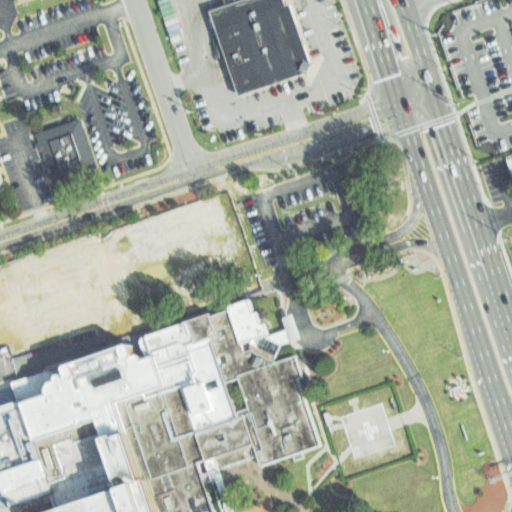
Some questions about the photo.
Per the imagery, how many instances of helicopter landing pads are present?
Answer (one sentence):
Altogether the scene contains 1 helicopter landing pad.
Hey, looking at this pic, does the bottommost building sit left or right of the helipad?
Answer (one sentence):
Compared with the helipad, the bottommost building is located further to the left.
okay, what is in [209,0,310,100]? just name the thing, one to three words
building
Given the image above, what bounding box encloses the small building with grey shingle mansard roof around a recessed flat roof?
[38,120,100,185]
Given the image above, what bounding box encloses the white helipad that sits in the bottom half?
[342,403,395,459]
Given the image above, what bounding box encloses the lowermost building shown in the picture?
[0,298,320,512]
